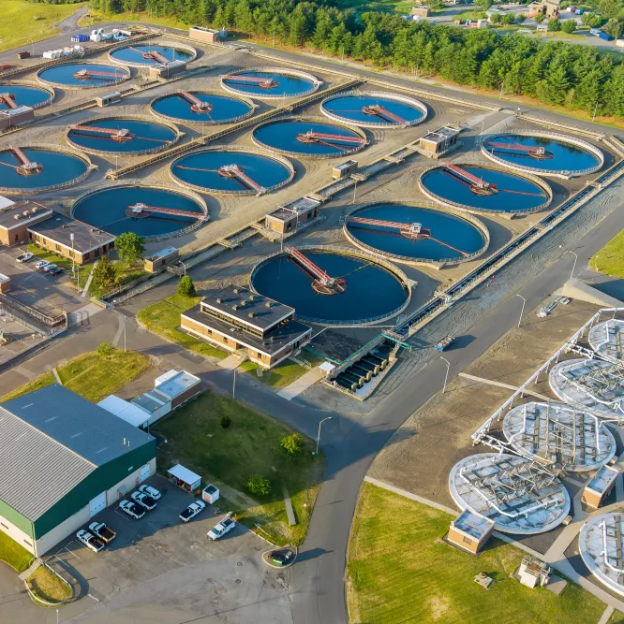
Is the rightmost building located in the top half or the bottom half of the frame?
bottom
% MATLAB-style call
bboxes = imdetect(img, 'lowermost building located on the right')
[447,508,497,554]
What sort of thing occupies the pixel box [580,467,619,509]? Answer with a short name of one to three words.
building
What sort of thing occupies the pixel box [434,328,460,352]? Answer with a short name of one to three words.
truck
